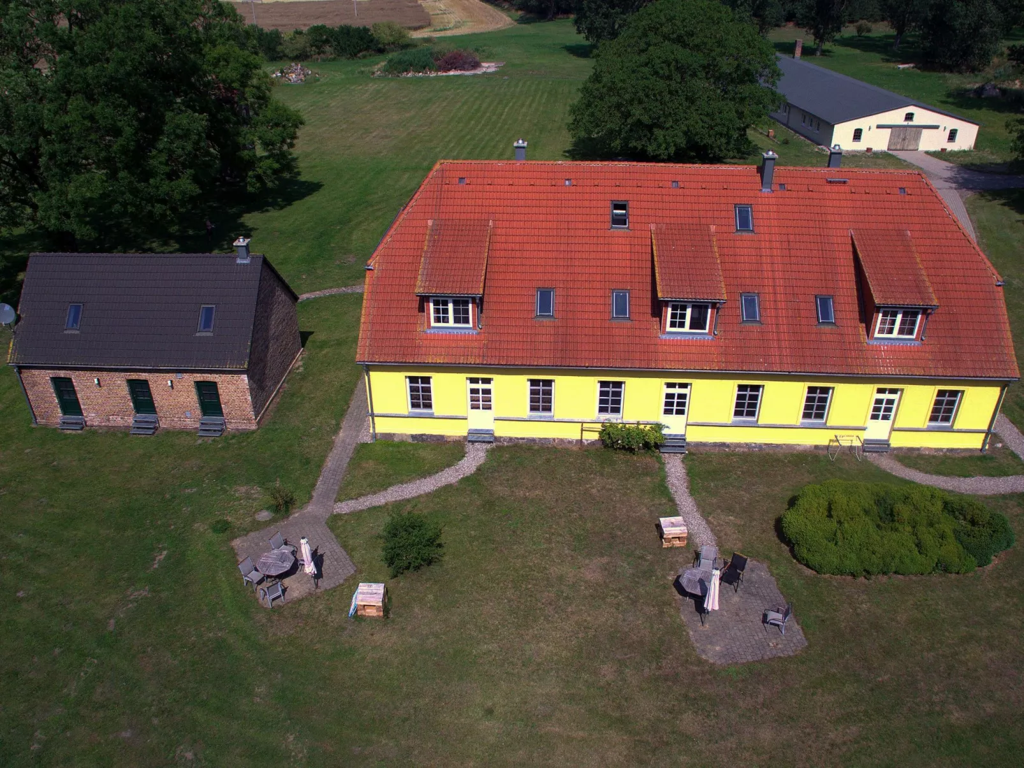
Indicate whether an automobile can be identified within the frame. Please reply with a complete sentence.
No, no automobile is visible in the view.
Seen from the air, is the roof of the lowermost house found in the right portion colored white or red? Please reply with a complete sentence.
The roof of the lowermost house found in the right portion is red.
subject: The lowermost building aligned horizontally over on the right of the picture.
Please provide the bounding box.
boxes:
[356,141,1023,459]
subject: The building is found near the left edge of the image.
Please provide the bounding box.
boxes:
[5,237,303,437]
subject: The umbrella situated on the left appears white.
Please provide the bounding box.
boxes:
[300,535,325,593]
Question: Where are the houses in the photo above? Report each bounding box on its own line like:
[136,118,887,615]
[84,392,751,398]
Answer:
[356,141,1023,459]
[5,237,303,437]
